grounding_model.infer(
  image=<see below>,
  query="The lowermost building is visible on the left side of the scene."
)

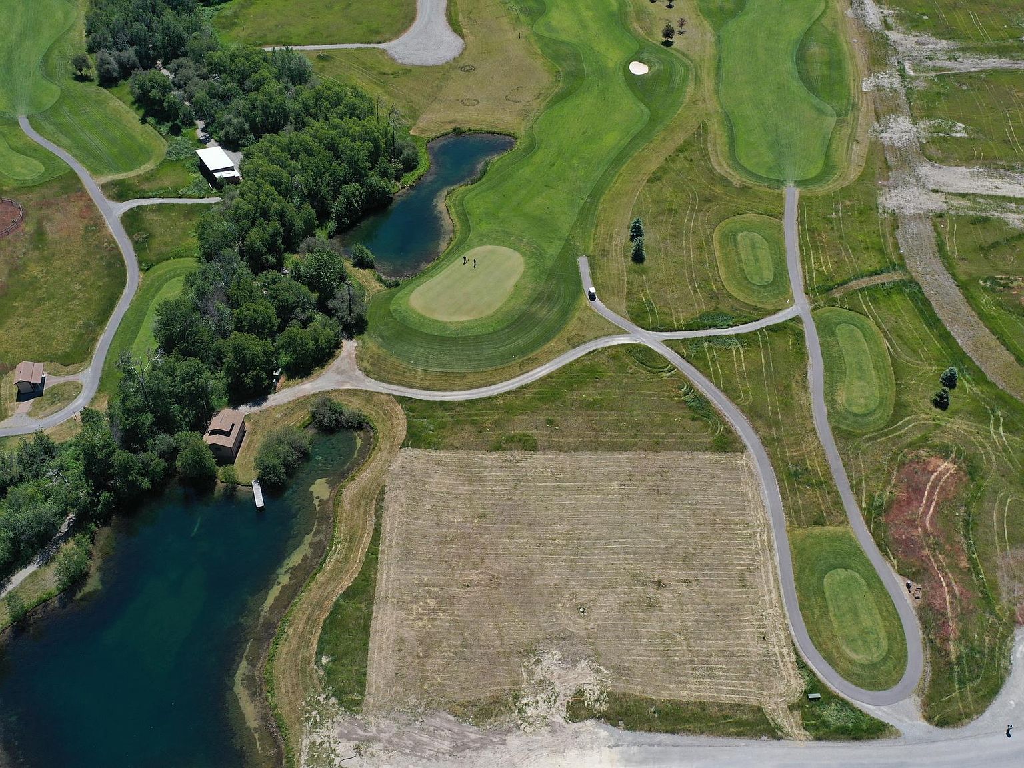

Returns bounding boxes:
[203,412,254,459]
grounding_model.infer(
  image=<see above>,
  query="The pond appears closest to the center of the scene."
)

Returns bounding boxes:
[334,137,514,278]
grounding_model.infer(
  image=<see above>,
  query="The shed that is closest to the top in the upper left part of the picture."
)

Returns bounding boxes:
[197,145,240,186]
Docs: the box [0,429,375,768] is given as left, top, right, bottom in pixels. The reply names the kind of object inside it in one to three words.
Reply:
pond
